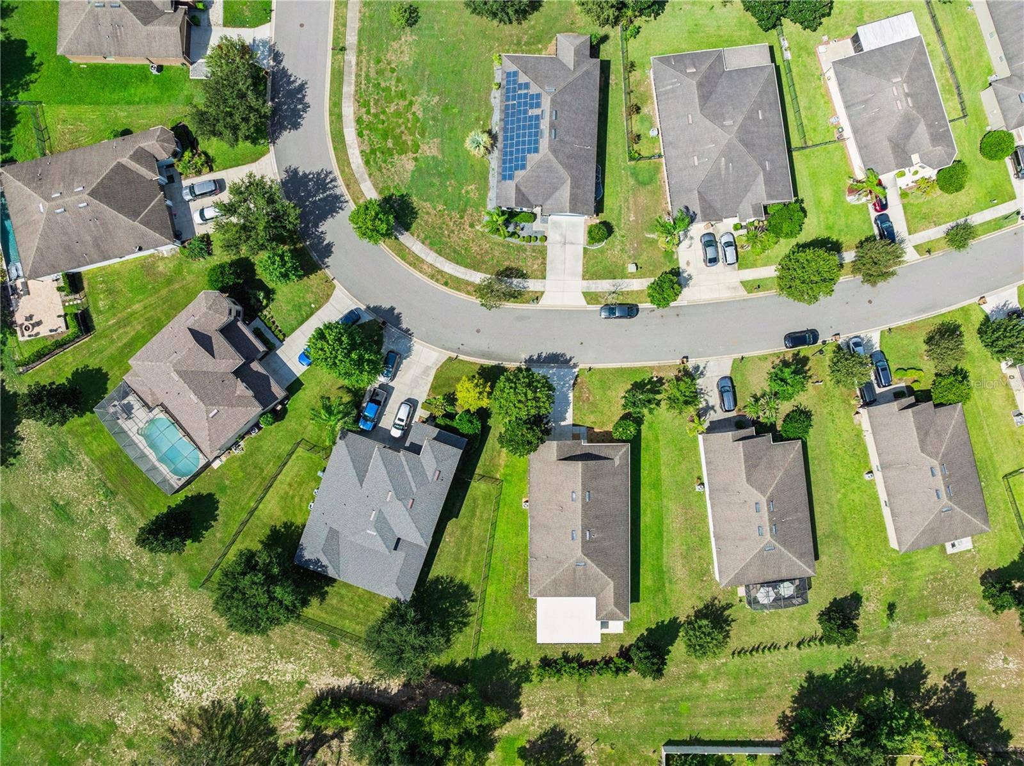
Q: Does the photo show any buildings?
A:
Yes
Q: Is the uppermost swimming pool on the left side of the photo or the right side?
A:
left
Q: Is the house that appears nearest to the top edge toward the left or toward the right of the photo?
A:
left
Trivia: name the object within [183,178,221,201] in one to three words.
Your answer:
car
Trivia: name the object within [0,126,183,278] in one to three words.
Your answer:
house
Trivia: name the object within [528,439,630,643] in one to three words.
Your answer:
house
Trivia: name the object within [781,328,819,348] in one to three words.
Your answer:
car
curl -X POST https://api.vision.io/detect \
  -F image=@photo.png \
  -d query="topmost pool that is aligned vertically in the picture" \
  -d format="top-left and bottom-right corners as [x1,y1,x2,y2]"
[0,188,20,264]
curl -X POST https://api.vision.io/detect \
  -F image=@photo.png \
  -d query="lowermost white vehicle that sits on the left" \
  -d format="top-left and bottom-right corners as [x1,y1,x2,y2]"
[390,400,414,438]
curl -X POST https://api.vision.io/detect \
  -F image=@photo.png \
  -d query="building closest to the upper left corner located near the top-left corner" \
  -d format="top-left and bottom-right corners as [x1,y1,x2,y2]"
[57,0,194,65]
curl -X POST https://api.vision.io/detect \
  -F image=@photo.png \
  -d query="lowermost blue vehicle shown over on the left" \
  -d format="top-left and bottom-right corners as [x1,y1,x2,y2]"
[361,385,387,431]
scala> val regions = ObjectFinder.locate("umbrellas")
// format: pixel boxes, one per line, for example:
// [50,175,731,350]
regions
[755,584,775,603]
[777,580,794,598]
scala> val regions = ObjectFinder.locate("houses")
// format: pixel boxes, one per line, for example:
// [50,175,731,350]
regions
[528,439,630,643]
[0,126,183,278]
[495,33,601,217]
[826,11,958,178]
[650,44,794,224]
[122,290,291,457]
[1006,362,1024,433]
[971,0,1024,134]
[700,426,816,588]
[294,422,468,600]
[860,395,991,554]
[57,0,194,65]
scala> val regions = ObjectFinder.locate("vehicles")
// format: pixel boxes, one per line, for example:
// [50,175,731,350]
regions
[857,377,881,408]
[870,350,894,389]
[715,375,736,413]
[1009,142,1024,189]
[379,347,403,385]
[870,195,888,216]
[781,328,819,348]
[194,205,231,225]
[871,213,897,249]
[183,178,221,201]
[699,231,719,269]
[361,385,387,431]
[717,230,738,268]
[844,331,865,369]
[390,400,414,438]
[600,303,637,320]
